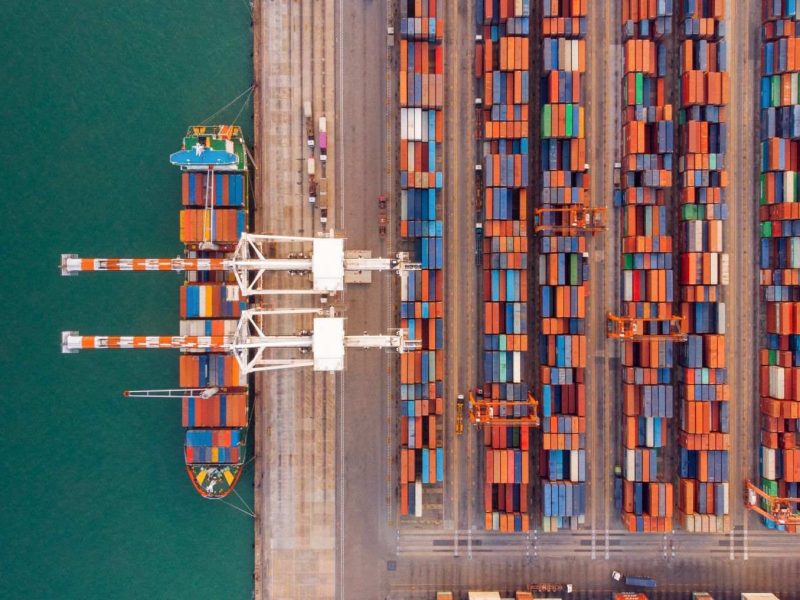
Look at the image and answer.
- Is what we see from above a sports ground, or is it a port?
port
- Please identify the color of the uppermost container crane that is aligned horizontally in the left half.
white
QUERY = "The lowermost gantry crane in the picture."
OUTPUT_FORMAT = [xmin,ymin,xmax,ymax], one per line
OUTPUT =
[745,478,800,524]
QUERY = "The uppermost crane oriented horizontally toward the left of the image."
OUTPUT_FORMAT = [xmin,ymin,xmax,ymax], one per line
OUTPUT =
[62,227,421,305]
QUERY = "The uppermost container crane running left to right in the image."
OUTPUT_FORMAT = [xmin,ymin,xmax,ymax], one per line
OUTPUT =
[530,206,613,241]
